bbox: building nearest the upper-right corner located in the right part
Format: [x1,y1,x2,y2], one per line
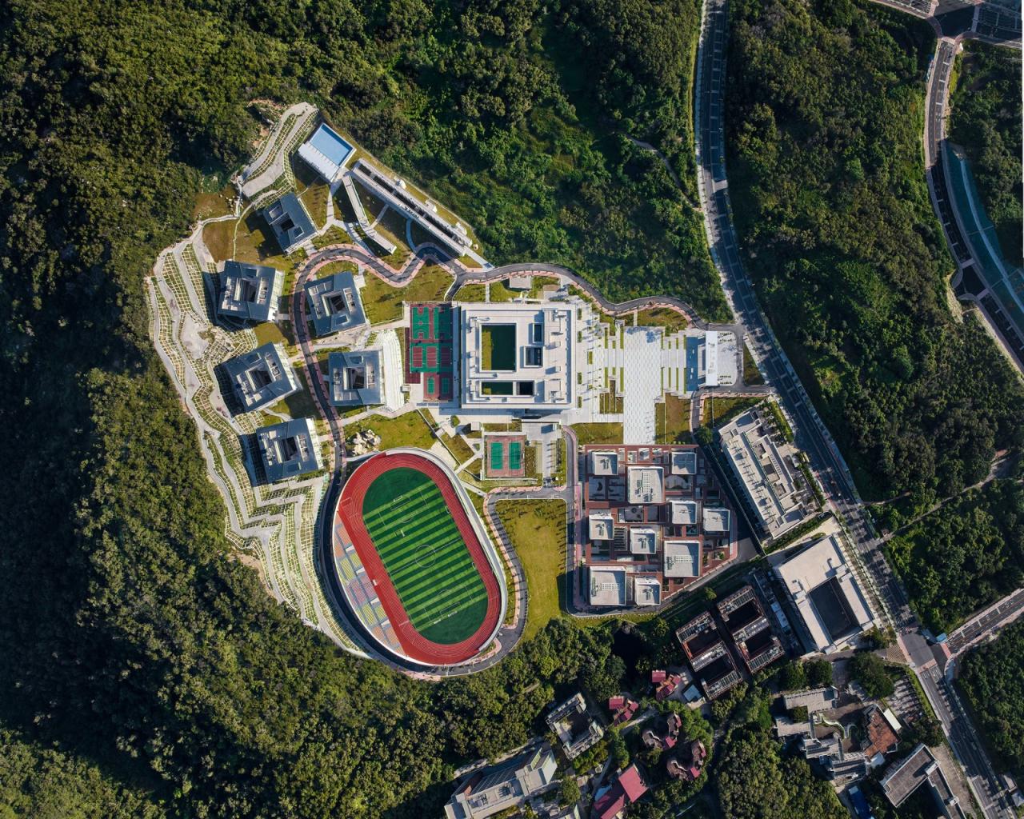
[704,331,718,386]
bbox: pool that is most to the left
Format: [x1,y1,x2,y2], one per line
[312,126,353,166]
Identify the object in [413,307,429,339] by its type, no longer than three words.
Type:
basketball court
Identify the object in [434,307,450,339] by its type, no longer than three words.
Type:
basketball court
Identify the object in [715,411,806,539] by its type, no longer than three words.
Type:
building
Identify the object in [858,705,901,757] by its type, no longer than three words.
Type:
house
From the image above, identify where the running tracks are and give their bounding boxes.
[338,453,501,666]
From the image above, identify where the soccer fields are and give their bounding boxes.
[363,467,488,644]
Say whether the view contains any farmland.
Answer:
No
